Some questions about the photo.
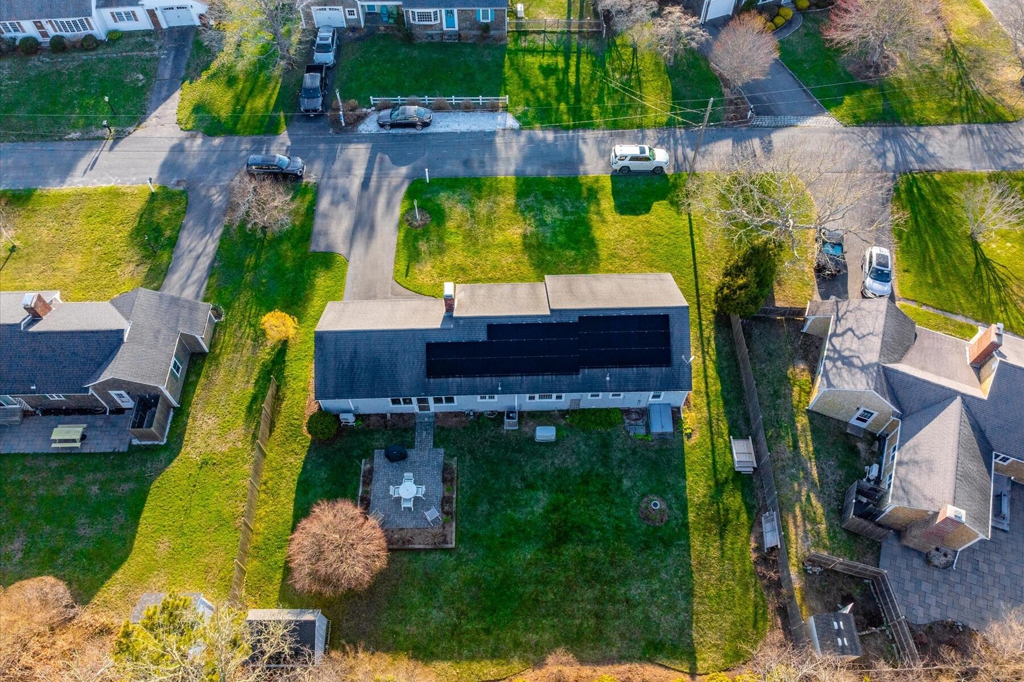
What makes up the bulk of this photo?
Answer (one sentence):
The largest share of the image is taken up by grass.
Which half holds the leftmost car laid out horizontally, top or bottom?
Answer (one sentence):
It is in the top half that the leftmost car laid out horizontally appears.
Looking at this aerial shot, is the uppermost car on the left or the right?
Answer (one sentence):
You can find the uppermost car on the left side of the picture.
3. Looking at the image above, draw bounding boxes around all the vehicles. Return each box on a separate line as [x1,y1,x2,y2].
[297,67,330,113]
[856,242,902,297]
[311,27,339,67]
[242,149,306,180]
[375,105,432,130]
[610,144,670,174]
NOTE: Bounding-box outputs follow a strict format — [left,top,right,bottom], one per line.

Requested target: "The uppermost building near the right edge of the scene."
[801,297,1024,562]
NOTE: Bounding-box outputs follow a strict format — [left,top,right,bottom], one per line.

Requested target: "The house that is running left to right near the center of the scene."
[314,273,694,420]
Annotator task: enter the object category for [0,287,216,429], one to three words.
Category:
house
